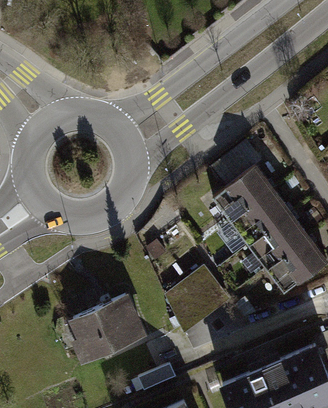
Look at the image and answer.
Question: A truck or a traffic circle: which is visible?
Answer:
traffic circle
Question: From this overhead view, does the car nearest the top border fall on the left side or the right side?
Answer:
right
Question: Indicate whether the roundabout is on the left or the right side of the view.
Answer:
left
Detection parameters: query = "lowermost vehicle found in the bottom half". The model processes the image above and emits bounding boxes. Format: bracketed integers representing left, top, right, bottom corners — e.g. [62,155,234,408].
[160,348,180,361]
